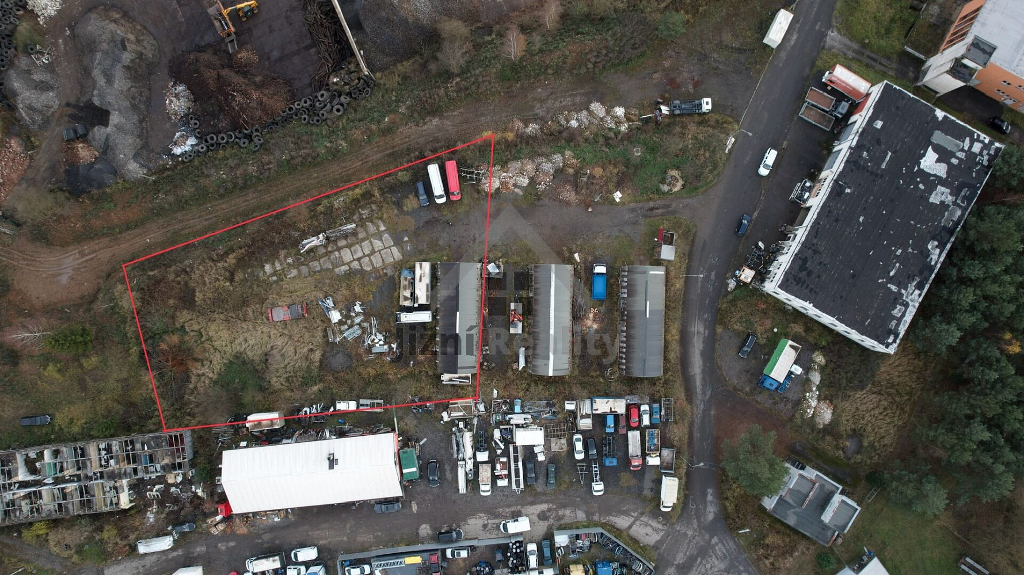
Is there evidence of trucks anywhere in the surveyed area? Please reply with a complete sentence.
Yes, the frame does contain a truck.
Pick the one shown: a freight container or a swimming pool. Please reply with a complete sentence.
The one in the frame is a freight container.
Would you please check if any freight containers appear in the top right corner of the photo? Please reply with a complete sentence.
Yes, a freight container appears in the top right corner of the photo.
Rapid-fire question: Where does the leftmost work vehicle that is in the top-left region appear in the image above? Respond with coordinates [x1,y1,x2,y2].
[225,0,265,25]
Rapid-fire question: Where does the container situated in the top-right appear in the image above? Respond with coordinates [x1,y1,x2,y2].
[763,8,794,48]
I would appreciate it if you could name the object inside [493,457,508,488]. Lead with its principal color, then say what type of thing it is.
white vehicle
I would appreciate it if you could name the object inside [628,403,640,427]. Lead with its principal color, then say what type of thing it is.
red vehicle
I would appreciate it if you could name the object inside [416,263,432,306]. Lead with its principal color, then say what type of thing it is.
white trailer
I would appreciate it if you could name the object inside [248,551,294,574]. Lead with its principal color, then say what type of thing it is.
white truck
